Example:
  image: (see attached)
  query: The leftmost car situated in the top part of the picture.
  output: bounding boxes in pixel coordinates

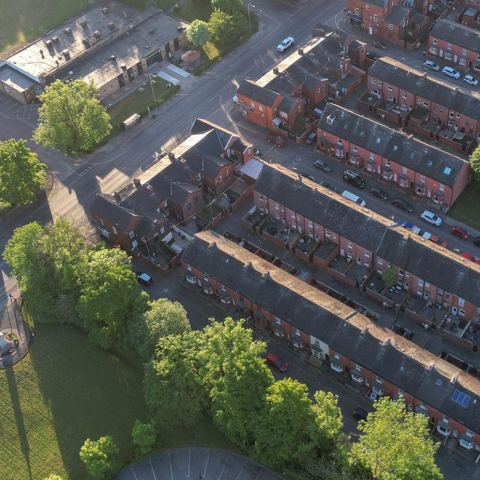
[149,147,172,164]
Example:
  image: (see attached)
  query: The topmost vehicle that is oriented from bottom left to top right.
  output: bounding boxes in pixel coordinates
[277,36,296,51]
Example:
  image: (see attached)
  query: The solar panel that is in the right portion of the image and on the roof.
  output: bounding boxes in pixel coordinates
[449,393,471,413]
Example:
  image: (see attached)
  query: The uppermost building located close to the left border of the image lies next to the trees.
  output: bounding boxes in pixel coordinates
[0,0,191,118]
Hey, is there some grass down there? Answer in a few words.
Yes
